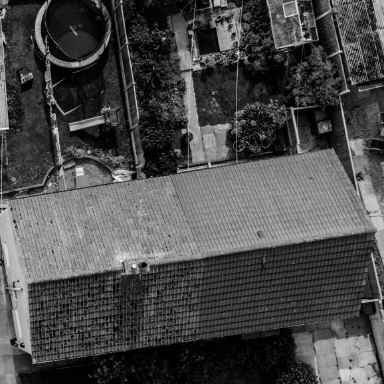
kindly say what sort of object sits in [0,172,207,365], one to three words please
house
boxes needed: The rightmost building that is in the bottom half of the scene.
[170,148,382,342]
